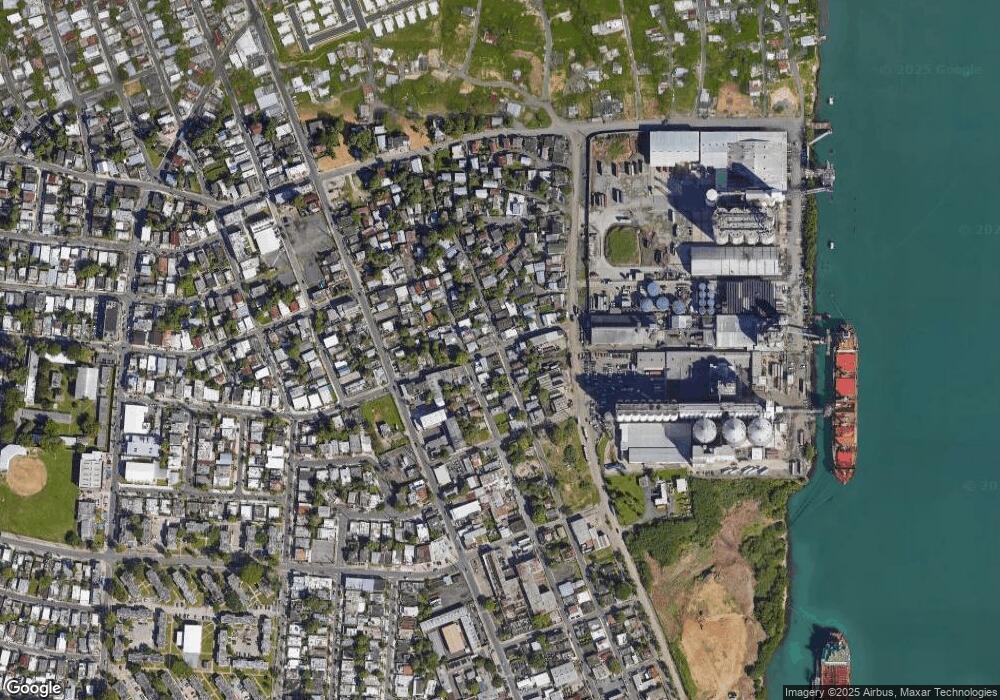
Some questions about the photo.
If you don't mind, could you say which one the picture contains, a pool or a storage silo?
storage silo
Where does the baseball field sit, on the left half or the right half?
left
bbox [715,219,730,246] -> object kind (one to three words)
silo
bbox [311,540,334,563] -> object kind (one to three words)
house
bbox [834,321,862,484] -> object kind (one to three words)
ship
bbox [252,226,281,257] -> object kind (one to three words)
building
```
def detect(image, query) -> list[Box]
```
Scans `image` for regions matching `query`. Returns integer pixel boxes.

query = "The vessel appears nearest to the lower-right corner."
[820,629,853,700]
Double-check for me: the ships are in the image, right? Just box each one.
[834,321,862,484]
[820,629,853,700]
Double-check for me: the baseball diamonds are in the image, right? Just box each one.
[0,446,77,546]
